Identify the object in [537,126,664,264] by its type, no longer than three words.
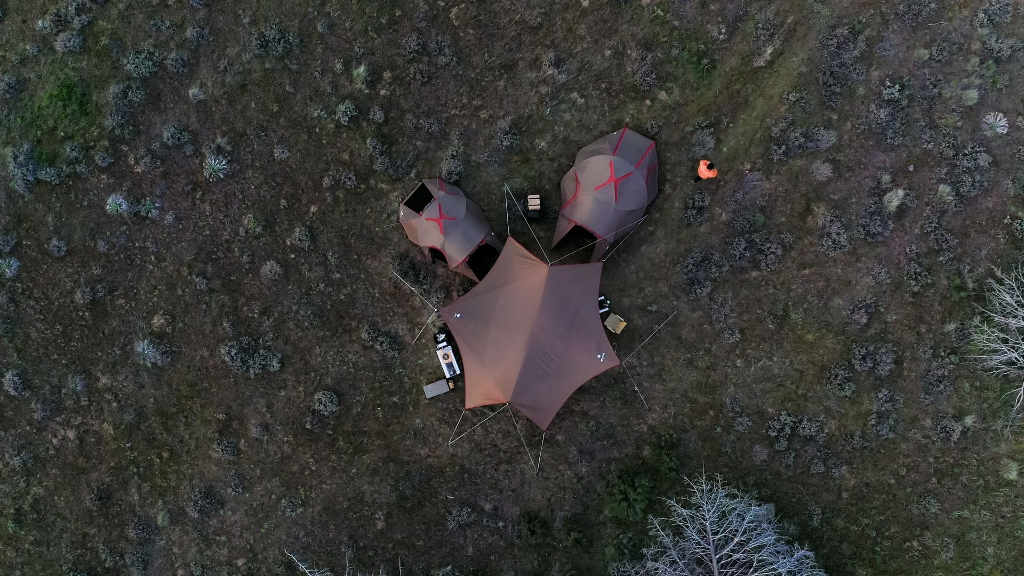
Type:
tent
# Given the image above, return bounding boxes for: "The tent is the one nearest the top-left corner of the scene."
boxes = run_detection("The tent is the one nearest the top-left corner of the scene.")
[386,170,515,286]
